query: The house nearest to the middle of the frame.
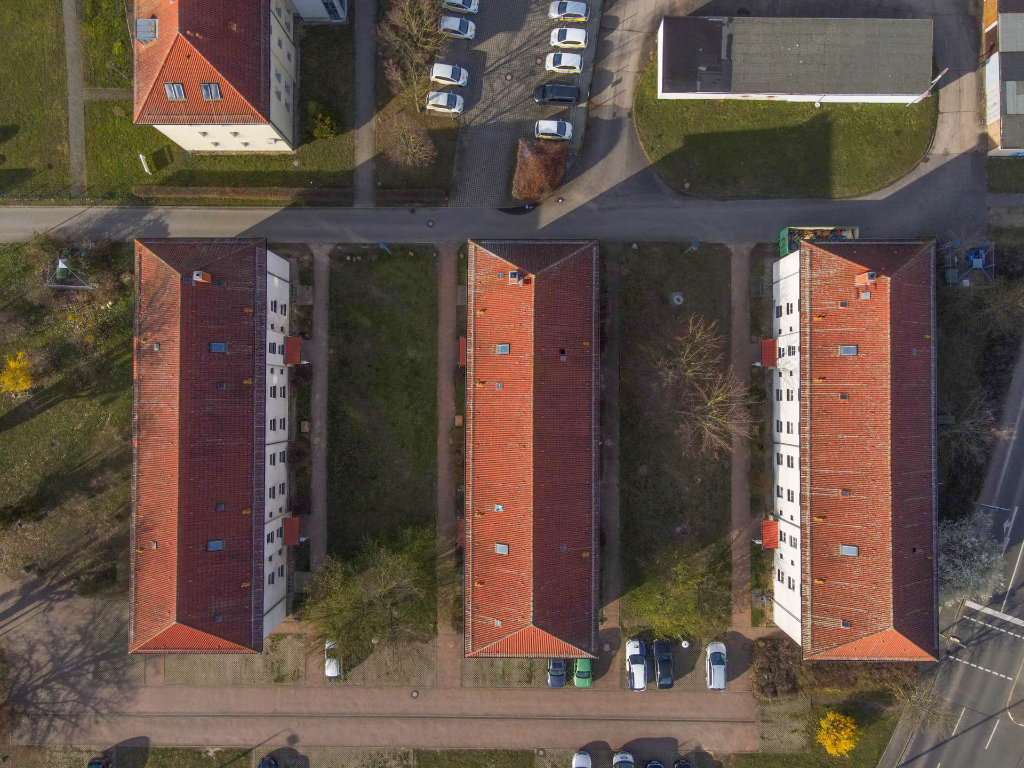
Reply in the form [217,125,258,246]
[457,238,601,659]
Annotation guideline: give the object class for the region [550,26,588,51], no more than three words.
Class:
car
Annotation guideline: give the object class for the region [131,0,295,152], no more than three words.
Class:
building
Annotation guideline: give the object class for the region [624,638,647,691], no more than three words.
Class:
car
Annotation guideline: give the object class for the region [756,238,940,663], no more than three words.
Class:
house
